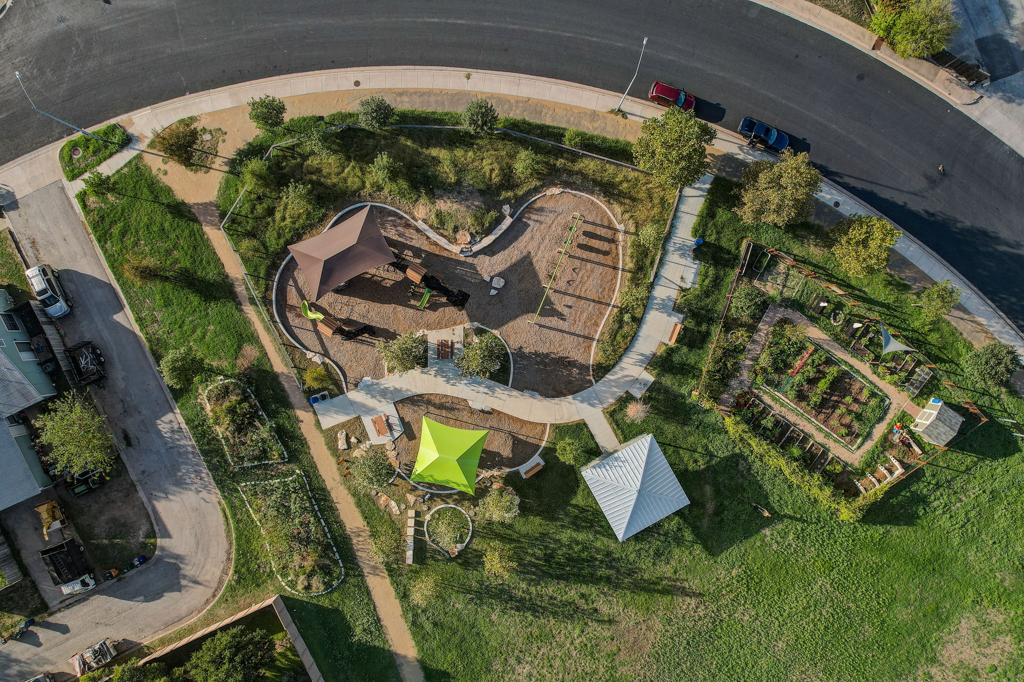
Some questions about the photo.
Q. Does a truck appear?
Yes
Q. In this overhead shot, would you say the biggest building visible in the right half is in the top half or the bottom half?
bottom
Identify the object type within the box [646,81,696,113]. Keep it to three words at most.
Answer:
car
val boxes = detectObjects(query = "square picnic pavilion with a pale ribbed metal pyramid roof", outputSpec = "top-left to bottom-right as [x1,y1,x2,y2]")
[581,433,691,542]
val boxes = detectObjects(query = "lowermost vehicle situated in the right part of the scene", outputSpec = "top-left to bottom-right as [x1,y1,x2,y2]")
[732,116,789,153]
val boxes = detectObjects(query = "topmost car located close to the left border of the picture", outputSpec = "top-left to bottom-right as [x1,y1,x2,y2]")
[26,265,72,319]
